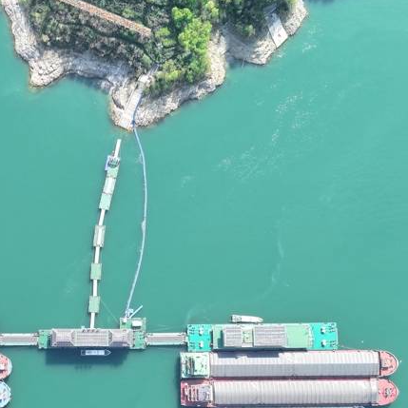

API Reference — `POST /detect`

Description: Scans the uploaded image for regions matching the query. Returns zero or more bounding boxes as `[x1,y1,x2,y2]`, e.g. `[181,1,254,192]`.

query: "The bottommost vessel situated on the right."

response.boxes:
[181,379,399,407]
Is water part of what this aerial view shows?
Yes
